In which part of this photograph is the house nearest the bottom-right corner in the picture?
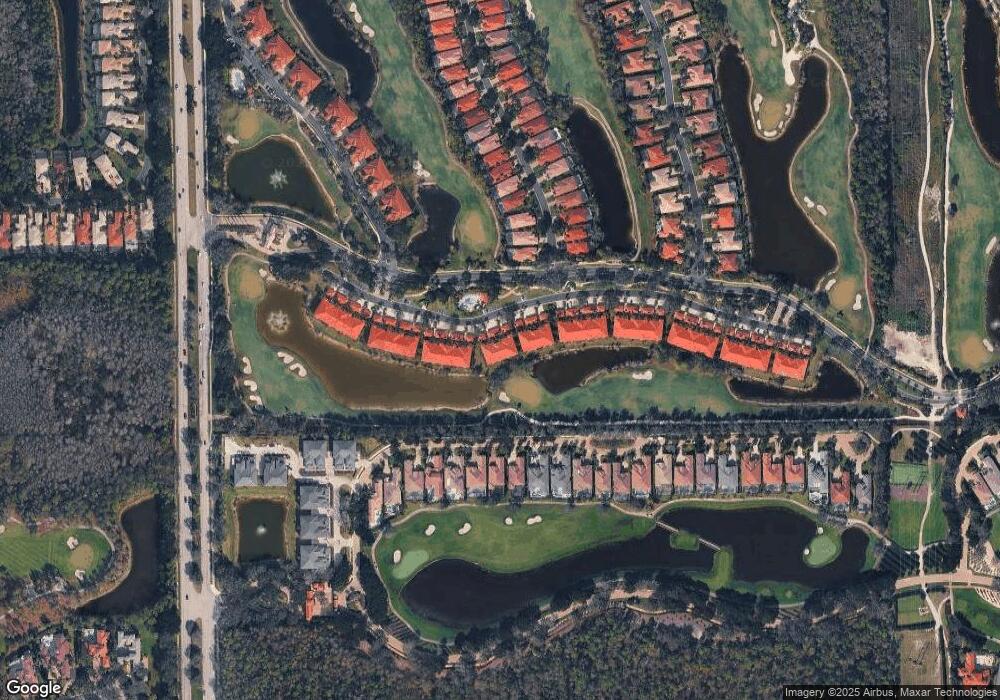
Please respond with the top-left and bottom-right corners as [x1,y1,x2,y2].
[958,653,993,692]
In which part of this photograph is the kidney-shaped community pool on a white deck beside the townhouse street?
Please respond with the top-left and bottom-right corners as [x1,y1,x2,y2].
[456,291,479,309]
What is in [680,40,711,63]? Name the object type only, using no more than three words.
house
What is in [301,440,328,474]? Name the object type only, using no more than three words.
building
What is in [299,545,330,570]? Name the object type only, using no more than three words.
building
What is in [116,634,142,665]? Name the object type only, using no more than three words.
house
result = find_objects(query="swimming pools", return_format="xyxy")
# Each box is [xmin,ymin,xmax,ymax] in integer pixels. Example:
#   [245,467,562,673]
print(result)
[456,291,479,309]
[230,69,244,92]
